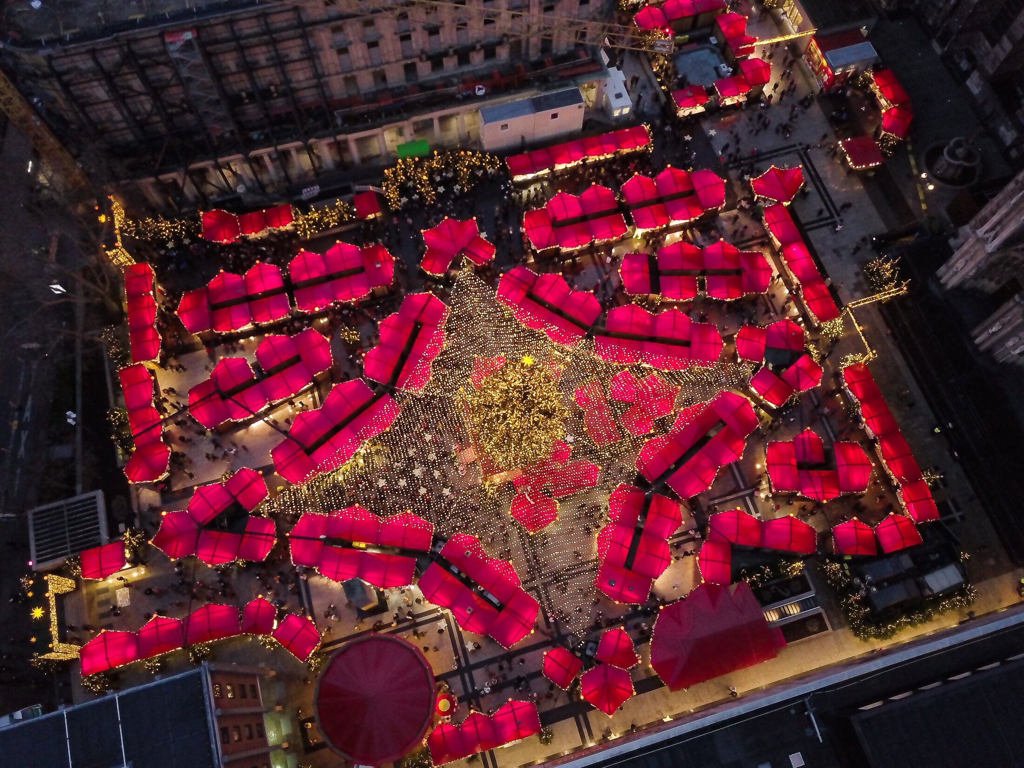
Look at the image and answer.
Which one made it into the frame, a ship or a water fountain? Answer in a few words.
water fountain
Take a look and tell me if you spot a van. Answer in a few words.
Yes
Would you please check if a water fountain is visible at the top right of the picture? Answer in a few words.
Yes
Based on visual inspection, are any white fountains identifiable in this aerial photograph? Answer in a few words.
No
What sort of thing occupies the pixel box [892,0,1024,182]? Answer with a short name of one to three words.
building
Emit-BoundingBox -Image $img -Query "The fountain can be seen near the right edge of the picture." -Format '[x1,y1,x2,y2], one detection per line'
[916,131,991,194]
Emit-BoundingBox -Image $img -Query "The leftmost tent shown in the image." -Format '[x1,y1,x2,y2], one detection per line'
[316,635,437,764]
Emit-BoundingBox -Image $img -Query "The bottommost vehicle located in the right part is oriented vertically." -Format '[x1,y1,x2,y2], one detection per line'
[603,68,632,127]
